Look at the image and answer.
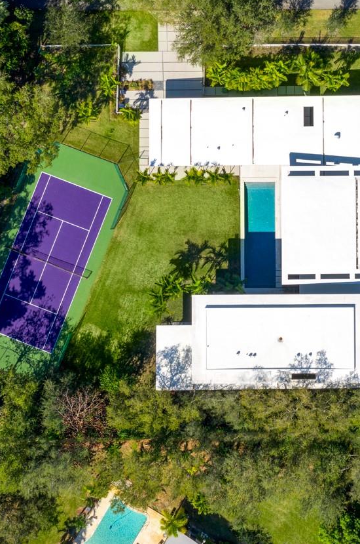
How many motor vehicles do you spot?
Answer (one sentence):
There are no motor vehicles in the image.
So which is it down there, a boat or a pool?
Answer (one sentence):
This aerial view contains a pool.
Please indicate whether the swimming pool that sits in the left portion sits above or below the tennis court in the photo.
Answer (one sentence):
In the image, the swimming pool that sits in the left portion sits below the tennis court.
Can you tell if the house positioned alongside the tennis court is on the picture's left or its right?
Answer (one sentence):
The house positioned alongside the tennis court appears in the right half of the scene.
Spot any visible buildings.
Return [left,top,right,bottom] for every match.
[165,529,214,544]
[149,97,360,390]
